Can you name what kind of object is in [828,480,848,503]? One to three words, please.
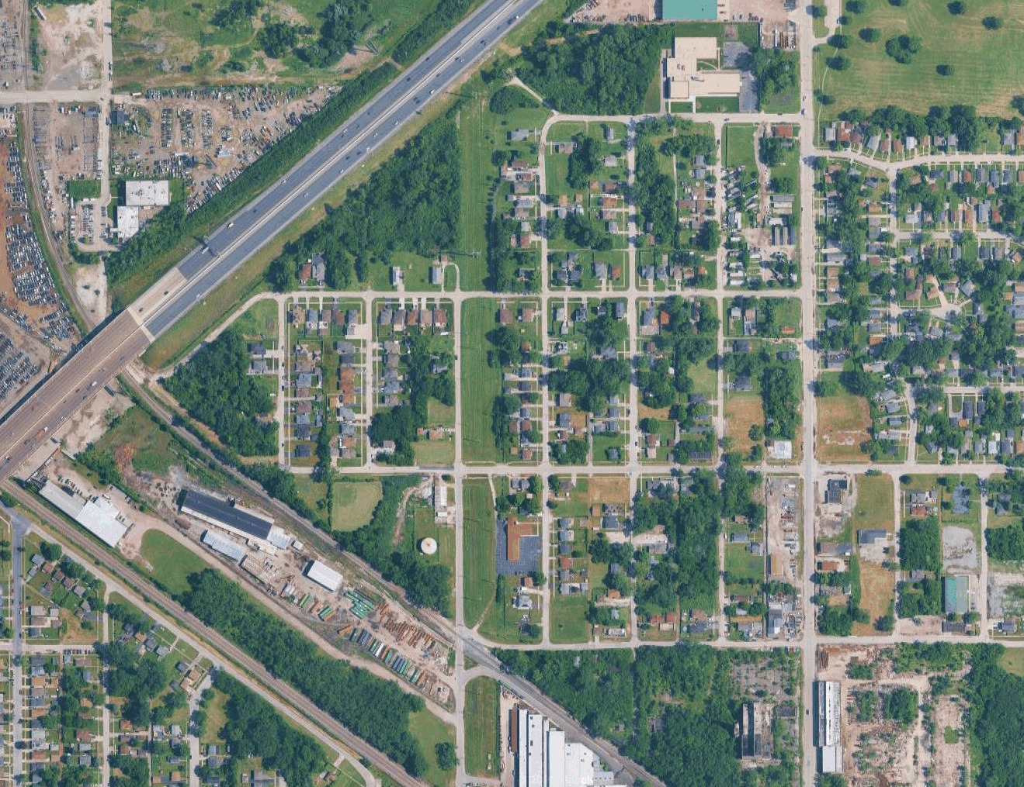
building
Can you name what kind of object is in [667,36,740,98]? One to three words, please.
building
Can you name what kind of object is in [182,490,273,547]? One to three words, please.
shed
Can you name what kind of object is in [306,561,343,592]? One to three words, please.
shed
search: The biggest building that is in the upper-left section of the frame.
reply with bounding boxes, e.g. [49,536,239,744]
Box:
[110,180,169,240]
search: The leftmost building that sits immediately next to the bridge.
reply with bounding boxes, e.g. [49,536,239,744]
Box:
[36,476,128,547]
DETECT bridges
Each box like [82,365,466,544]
[0,309,155,486]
